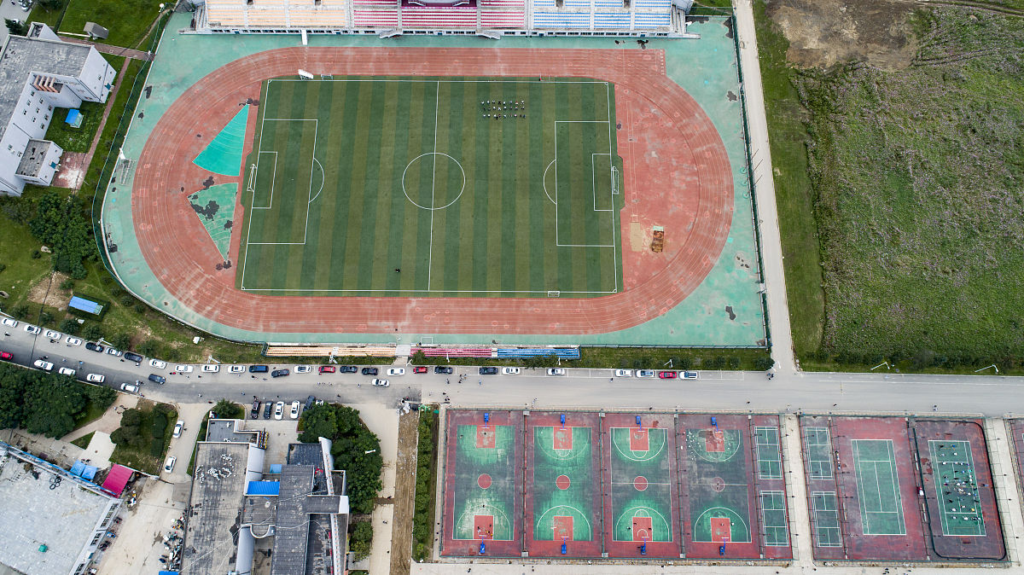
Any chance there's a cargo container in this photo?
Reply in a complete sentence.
No, the picture doesn't show any cargo container.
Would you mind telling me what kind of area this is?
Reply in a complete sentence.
This looks like a sports ground.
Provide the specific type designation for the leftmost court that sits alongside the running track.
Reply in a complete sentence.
The leftmost court that sits alongside the running track appears to be a basketball court.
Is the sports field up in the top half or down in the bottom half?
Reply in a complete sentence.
The sports field is in the top half of the image.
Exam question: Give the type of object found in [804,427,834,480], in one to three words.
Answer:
sports court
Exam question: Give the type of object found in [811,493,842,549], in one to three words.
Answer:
sports court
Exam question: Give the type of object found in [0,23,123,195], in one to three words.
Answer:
building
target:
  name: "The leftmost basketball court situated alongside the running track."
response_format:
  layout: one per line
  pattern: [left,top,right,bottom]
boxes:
[441,411,523,557]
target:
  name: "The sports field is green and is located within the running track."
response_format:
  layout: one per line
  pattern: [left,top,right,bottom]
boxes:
[235,75,625,298]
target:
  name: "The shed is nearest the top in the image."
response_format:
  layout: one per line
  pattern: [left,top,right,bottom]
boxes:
[82,24,108,43]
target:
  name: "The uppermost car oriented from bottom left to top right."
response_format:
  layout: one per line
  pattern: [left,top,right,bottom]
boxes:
[302,394,315,410]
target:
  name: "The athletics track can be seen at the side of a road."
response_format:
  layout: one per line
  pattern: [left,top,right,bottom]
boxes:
[103,10,766,346]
